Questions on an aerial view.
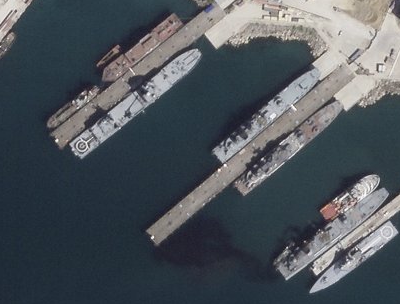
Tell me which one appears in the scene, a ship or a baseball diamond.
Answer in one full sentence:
The image shows a ship.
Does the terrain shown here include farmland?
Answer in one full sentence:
No, there's no farmland in this view.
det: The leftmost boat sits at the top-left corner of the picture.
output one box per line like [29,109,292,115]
[0,33,15,59]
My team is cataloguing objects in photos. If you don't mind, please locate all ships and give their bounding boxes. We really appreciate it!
[48,84,100,125]
[102,55,134,78]
[213,70,322,163]
[310,221,398,293]
[70,49,202,157]
[276,190,389,277]
[320,176,380,222]
[97,45,120,66]
[123,11,184,66]
[235,102,344,195]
